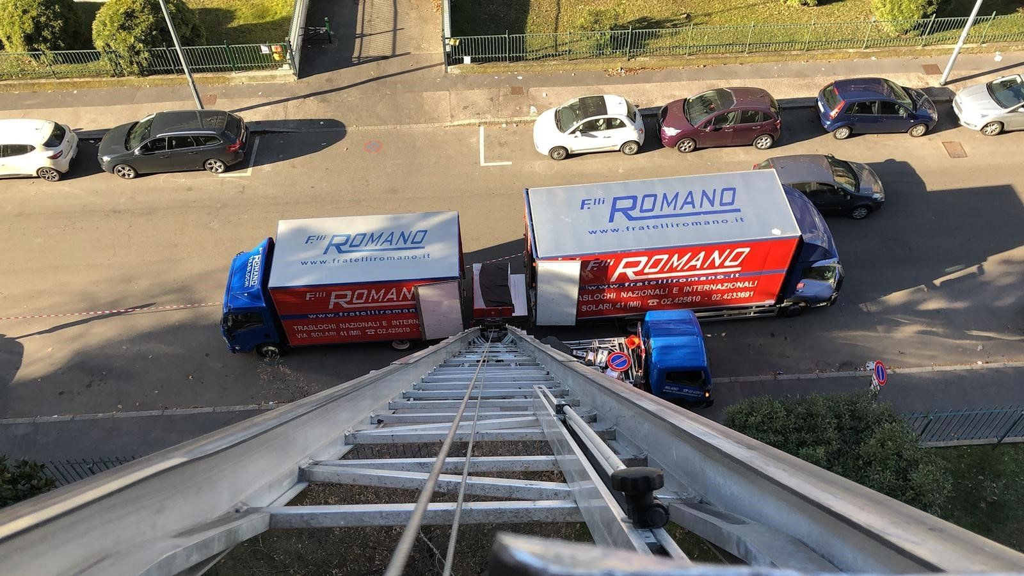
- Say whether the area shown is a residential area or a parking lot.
parking lot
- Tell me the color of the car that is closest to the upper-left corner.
white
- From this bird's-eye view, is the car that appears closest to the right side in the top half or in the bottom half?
top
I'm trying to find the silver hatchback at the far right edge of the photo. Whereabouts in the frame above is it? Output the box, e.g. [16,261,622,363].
[953,71,1024,136]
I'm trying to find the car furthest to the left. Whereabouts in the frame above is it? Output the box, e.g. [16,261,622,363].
[0,115,78,181]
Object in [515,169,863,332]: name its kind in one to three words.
truck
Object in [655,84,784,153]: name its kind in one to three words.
car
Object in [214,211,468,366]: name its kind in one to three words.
truck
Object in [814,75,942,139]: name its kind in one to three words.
car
